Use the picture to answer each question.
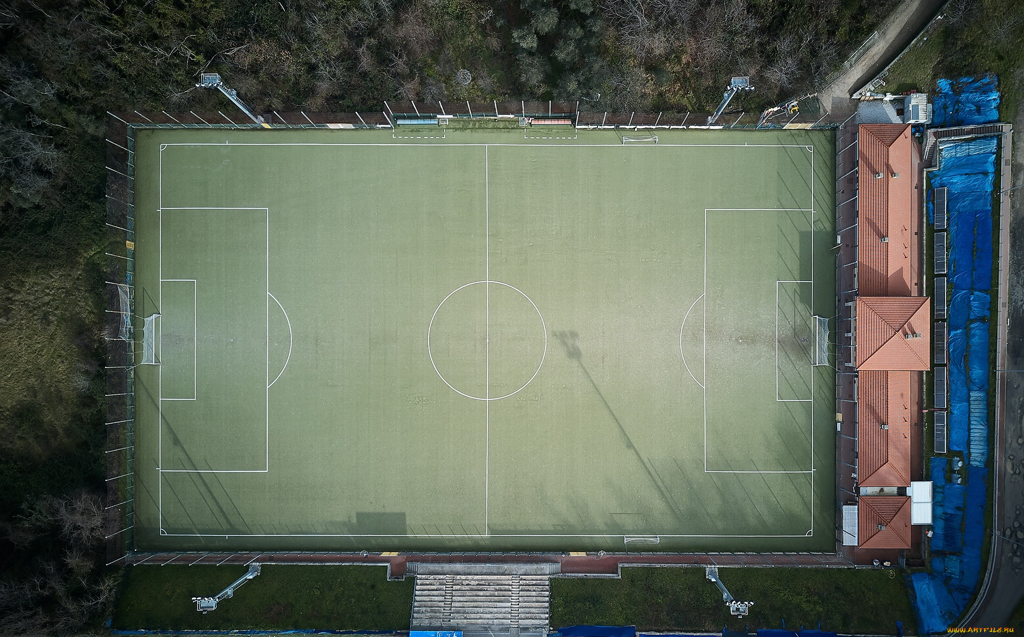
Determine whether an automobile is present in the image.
No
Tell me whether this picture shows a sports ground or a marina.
sports ground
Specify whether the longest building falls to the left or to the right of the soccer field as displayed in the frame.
right of it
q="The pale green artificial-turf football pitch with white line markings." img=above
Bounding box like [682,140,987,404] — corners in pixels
[134,117,837,551]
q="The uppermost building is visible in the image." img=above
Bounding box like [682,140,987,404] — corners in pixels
[844,123,931,488]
